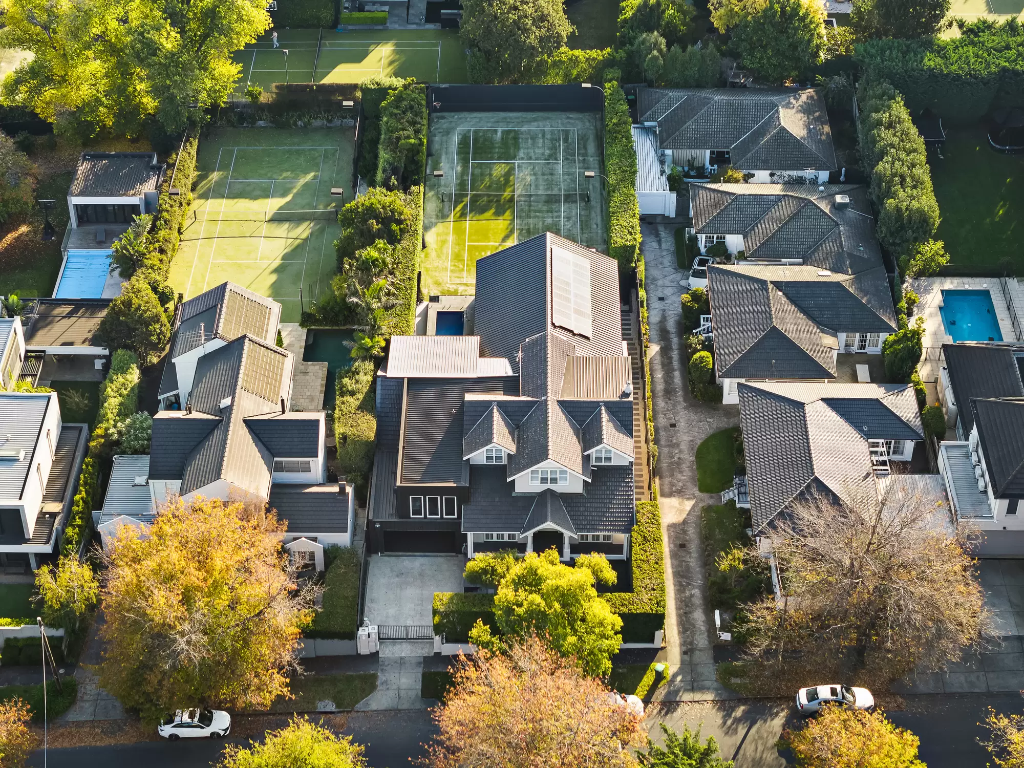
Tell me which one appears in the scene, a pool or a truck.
pool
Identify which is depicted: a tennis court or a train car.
tennis court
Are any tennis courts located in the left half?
Yes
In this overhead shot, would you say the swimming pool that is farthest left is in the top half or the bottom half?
top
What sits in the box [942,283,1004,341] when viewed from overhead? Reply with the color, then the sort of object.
blue swimming pool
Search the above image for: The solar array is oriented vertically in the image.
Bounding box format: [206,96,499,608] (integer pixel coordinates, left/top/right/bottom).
[553,244,590,336]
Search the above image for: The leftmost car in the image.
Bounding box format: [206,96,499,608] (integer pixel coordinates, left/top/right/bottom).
[158,705,230,740]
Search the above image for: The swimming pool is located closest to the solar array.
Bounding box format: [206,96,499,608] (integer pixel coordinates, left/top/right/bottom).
[427,296,475,334]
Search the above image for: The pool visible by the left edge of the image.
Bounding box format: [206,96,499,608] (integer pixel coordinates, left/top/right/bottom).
[42,221,133,298]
